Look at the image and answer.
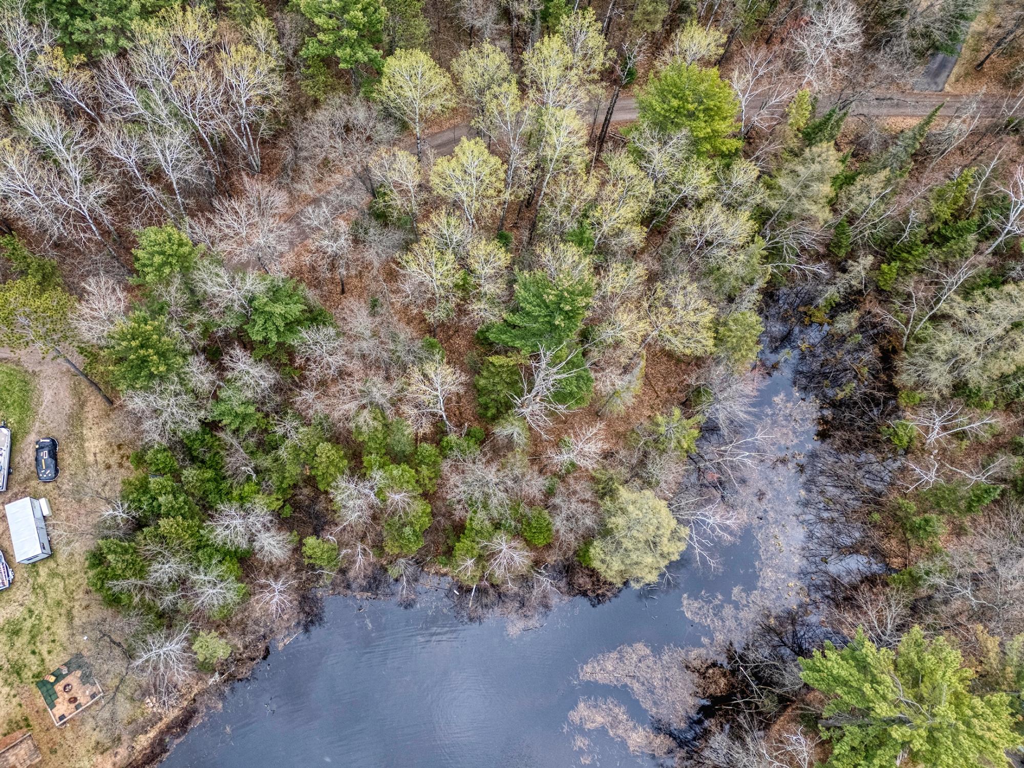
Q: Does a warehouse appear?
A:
No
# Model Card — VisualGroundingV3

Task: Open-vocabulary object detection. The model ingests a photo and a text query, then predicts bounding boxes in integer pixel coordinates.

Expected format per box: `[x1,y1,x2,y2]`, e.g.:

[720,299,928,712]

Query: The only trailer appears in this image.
[6,495,52,565]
